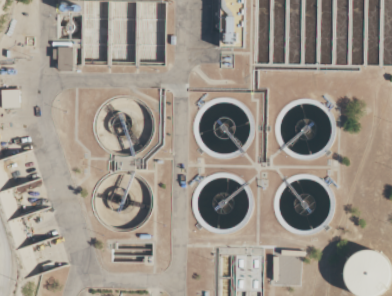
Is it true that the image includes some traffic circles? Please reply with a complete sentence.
No, there isn't any traffic circle down there.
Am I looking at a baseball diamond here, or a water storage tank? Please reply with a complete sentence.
This aerial view contains a water storage tank.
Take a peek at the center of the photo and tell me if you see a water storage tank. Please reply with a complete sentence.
Yes, a water storage tank can be seen at the center of the photo.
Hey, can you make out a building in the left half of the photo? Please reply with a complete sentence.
Yes, I can see a building in the left half of the photo.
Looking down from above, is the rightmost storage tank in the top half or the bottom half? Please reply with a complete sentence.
You can find the rightmost storage tank in the bottom half.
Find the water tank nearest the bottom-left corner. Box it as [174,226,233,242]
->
[92,170,152,230]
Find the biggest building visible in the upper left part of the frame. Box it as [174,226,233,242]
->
[52,41,81,71]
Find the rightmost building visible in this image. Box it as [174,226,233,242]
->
[269,250,306,284]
